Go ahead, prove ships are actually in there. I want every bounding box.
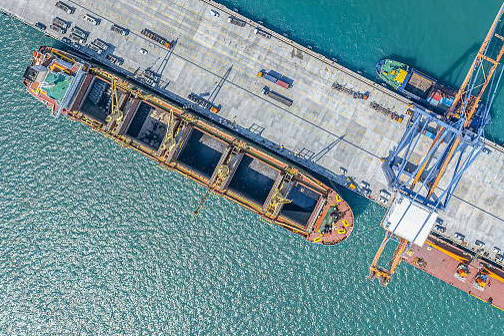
[16,47,355,245]
[376,59,495,130]
[402,231,504,310]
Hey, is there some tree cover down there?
No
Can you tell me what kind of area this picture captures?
port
